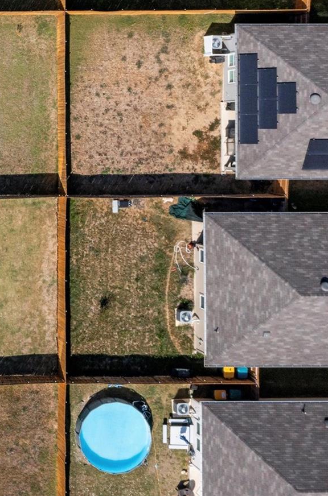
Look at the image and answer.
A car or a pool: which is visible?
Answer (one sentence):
The image shows a pool.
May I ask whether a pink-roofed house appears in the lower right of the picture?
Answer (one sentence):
No, I see no pink-roofed house in the lower right of the picture.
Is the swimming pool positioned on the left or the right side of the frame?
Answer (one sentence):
The swimming pool is on the left side of the image.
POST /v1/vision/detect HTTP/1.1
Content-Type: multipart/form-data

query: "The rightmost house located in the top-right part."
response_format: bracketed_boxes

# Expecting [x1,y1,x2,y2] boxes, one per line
[220,24,328,179]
